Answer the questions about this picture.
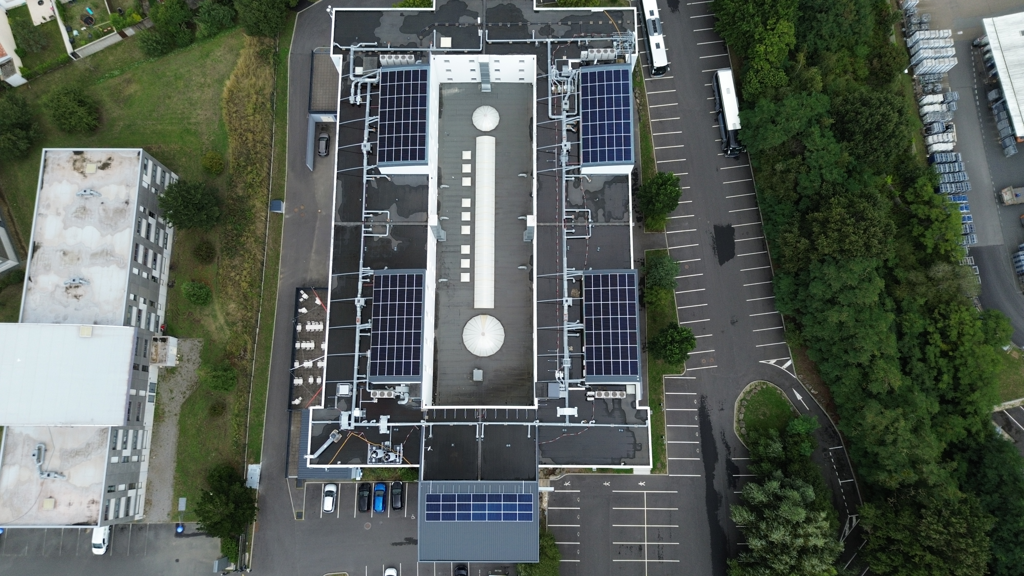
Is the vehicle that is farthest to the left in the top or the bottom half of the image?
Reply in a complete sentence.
It is in the bottom half that the vehicle that is farthest to the left appears.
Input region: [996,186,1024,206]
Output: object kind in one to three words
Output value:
vehicle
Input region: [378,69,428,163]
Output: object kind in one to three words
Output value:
solar array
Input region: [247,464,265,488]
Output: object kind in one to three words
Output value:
building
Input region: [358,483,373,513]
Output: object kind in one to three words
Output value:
car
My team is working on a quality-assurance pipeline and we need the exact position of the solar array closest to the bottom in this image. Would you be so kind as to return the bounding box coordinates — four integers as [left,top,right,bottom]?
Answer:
[426,480,533,521]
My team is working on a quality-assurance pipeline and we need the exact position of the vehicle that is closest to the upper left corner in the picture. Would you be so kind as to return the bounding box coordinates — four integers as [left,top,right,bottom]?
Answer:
[317,134,332,158]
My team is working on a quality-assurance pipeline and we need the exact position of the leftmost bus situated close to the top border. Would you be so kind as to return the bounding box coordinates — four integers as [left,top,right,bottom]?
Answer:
[637,0,669,83]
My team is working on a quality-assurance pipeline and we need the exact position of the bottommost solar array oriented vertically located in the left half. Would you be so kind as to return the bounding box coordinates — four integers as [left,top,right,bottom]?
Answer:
[370,274,423,376]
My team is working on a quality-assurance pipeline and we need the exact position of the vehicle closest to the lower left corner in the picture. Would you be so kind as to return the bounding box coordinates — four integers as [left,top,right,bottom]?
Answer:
[94,524,114,557]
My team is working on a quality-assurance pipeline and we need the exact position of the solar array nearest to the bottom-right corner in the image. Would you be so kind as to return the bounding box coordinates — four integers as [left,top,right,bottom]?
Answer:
[584,273,638,375]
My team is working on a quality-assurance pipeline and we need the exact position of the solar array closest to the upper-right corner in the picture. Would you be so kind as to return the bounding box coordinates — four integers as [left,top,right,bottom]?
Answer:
[581,69,631,164]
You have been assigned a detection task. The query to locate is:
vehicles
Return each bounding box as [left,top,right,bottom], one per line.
[637,0,669,83]
[390,481,405,510]
[385,567,398,576]
[1011,137,1024,146]
[94,524,114,557]
[454,565,469,576]
[712,70,745,162]
[317,134,332,158]
[358,483,373,513]
[373,484,388,513]
[996,186,1024,206]
[323,484,338,513]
